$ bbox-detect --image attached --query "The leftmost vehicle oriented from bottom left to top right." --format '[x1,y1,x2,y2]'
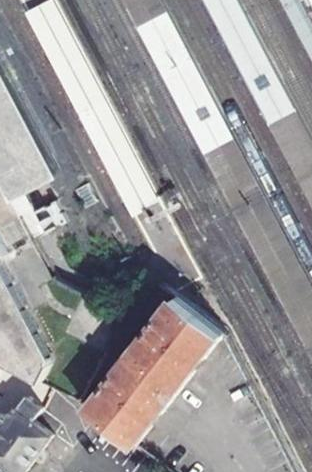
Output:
[166,444,186,465]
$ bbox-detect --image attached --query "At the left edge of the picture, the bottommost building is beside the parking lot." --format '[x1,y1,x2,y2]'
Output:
[0,434,55,472]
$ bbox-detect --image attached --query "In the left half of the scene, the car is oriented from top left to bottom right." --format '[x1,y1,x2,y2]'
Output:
[78,432,96,454]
